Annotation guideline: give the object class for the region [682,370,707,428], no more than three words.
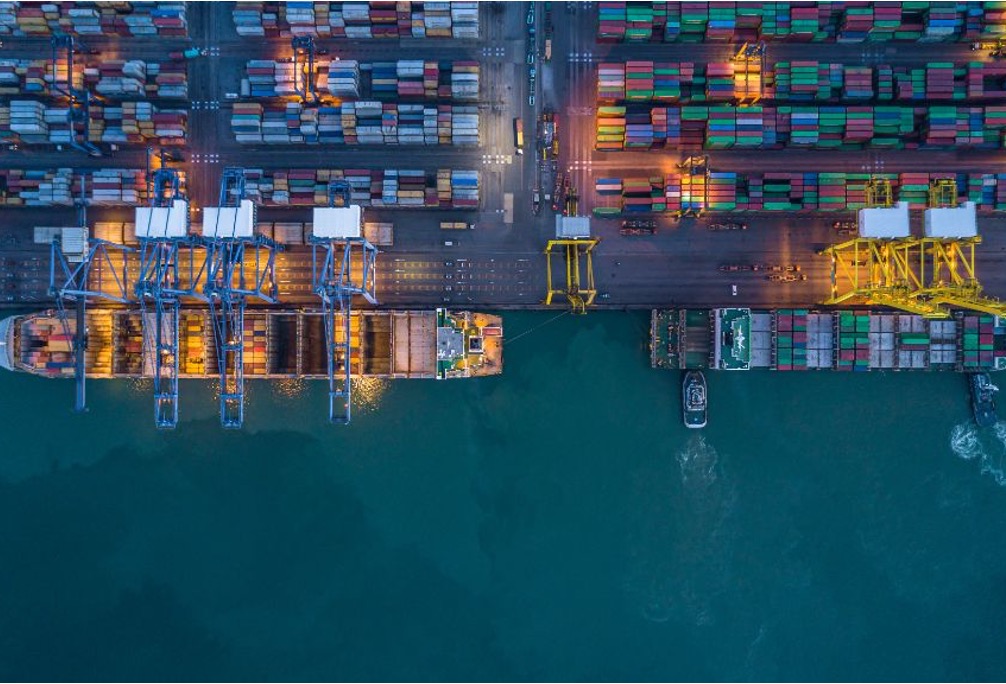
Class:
boat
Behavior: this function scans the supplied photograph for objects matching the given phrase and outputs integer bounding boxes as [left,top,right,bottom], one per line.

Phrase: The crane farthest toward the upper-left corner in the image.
[55,39,98,104]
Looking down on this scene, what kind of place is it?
port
